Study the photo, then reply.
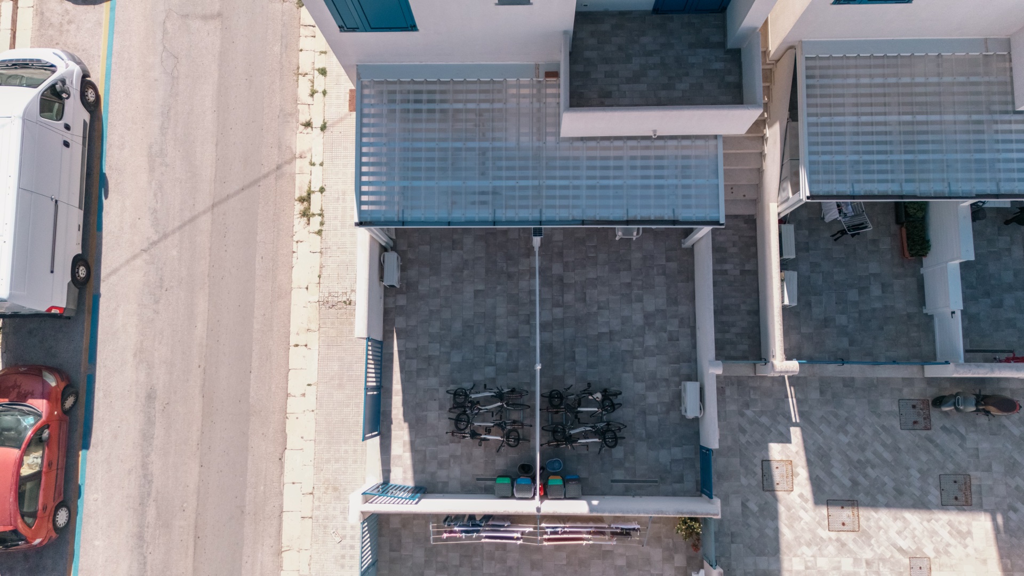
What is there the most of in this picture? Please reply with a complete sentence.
The bulk of the photo consists of paved ground.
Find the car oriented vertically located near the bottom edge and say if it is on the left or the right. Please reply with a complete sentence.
You can find the car oriented vertically located near the bottom edge on the left side of the picture.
